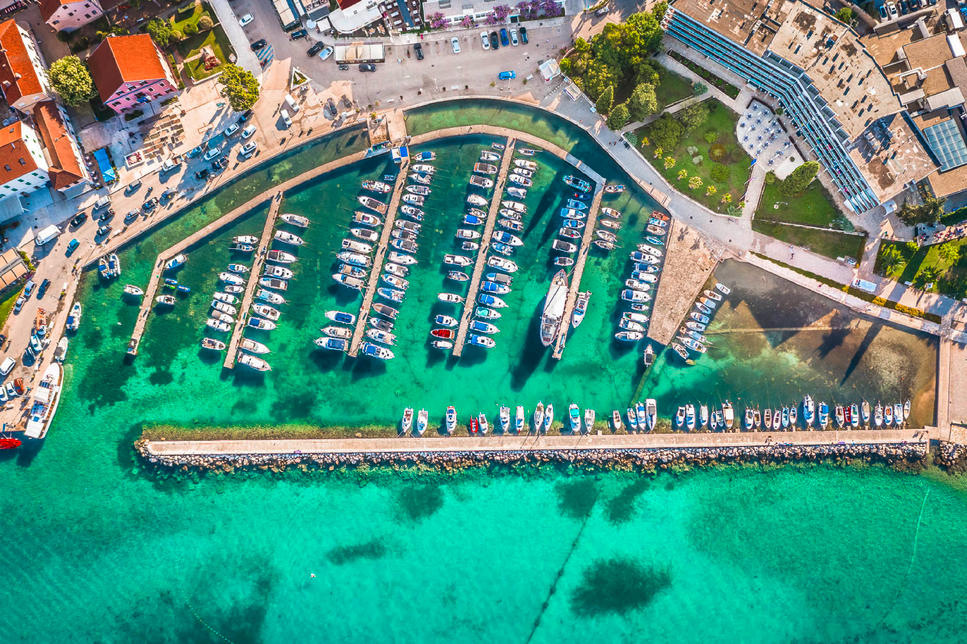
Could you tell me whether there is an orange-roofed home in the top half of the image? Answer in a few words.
Yes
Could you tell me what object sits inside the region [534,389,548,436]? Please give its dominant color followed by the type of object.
white boat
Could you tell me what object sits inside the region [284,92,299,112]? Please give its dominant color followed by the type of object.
white vehicle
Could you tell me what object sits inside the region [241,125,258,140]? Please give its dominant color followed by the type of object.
white car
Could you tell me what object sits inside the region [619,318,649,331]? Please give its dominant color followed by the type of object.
white boat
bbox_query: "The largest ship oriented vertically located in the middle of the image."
[537,263,568,347]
